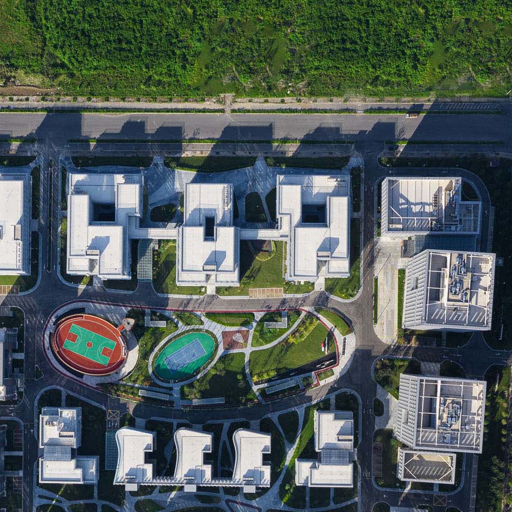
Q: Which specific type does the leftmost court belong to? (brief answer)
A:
basketball court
